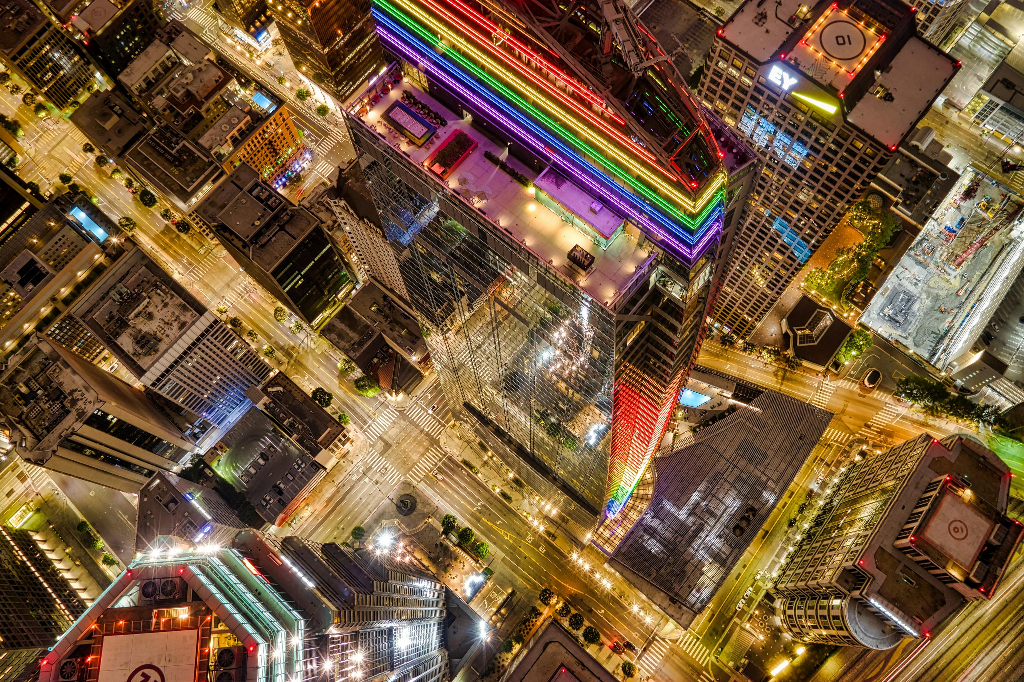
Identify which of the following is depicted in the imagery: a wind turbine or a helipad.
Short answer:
helipad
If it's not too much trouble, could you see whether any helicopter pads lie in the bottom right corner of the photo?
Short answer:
Yes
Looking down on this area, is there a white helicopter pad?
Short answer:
No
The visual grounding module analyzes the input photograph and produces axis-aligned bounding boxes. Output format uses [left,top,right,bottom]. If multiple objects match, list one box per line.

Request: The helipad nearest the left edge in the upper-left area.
[78,0,125,39]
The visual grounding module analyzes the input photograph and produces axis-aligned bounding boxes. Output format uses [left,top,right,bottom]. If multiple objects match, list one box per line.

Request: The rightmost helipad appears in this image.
[919,492,994,572]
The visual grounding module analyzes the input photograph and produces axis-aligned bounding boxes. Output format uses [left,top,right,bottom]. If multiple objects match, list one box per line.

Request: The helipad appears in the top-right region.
[801,4,887,77]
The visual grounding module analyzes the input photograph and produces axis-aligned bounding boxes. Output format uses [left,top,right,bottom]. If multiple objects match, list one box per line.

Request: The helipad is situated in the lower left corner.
[98,628,201,682]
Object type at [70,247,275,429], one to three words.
building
